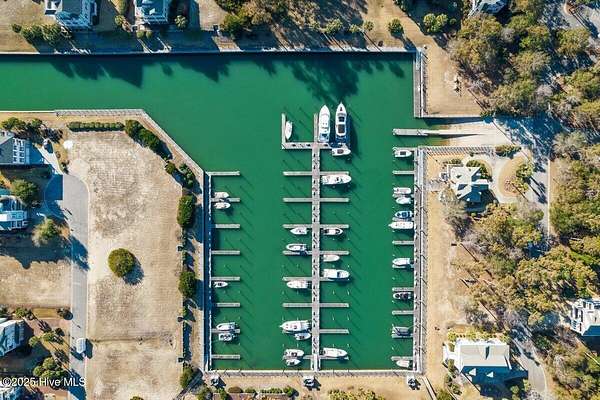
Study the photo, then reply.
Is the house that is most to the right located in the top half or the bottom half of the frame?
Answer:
bottom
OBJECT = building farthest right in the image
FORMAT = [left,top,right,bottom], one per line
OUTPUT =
[568,299,600,336]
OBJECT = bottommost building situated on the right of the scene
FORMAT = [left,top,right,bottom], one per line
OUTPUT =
[434,333,515,380]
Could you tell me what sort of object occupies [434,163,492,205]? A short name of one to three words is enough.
house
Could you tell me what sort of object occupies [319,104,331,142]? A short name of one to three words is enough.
boat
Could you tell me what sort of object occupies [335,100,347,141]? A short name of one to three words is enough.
boat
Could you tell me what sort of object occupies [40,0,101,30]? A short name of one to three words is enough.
house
